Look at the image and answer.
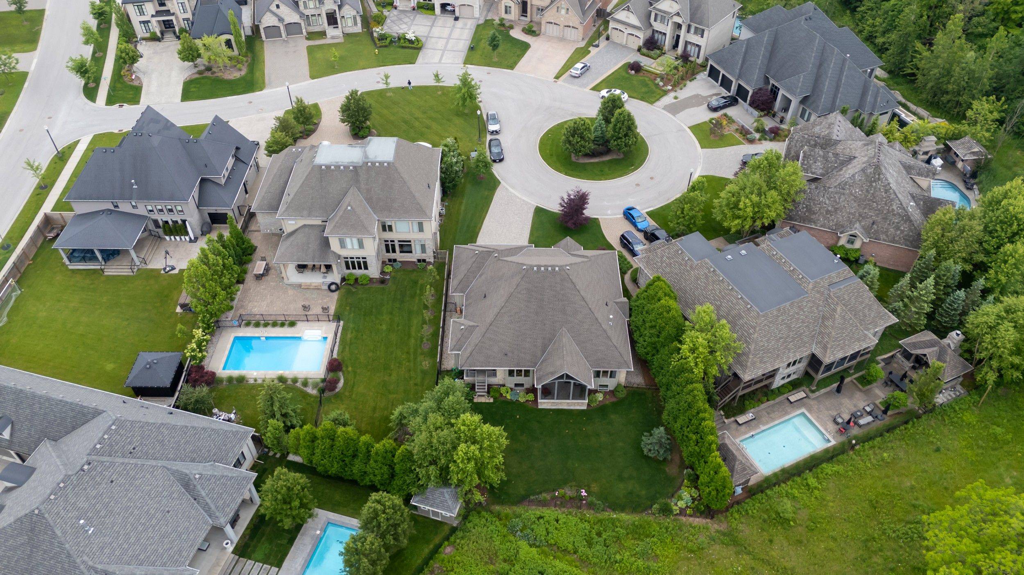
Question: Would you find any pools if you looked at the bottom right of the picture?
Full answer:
Yes, a pool appears at the bottom right of the picture.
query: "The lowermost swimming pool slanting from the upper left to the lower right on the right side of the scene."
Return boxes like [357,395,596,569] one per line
[934,181,968,216]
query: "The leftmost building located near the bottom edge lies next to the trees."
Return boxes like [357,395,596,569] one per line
[0,365,259,575]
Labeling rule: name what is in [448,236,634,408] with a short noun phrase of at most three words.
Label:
house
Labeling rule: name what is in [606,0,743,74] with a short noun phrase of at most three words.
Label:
house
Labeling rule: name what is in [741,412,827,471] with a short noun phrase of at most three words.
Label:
swimming pool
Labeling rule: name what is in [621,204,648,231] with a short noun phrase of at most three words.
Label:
car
